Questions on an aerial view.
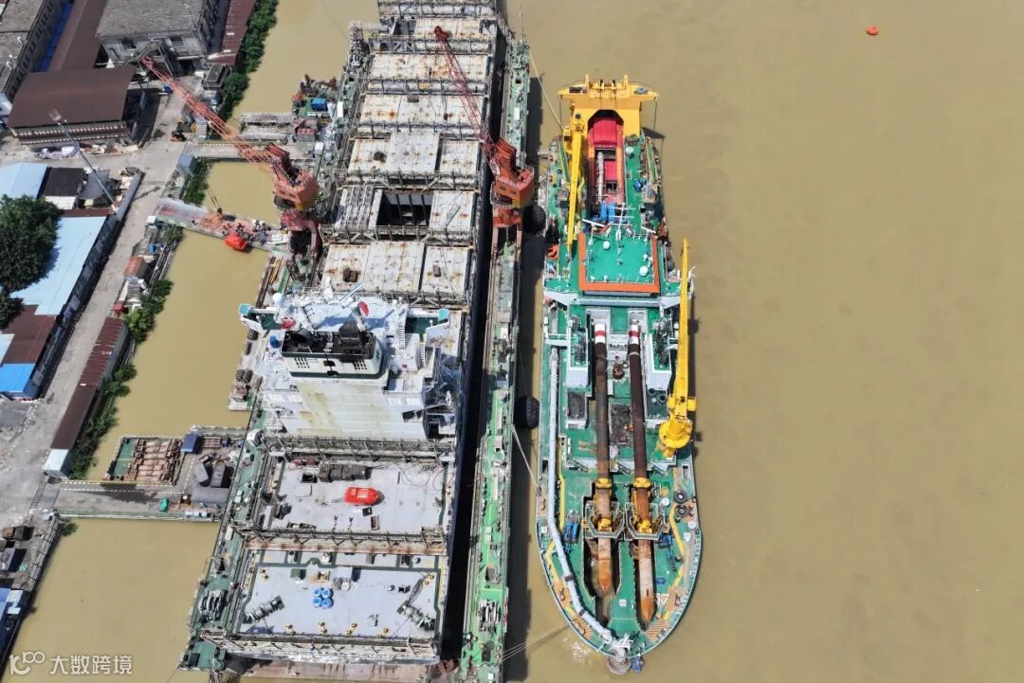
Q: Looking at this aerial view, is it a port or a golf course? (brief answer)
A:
port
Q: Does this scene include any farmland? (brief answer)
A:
No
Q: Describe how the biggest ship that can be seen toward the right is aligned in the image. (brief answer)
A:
vertically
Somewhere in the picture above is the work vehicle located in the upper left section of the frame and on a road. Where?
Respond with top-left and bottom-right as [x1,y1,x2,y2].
[172,127,191,141]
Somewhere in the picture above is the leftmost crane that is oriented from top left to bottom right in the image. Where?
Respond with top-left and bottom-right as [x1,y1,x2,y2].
[140,57,318,268]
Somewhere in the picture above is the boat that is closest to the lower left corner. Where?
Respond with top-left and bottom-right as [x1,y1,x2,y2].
[0,587,38,665]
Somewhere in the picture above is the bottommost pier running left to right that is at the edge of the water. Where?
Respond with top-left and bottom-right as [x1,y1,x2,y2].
[56,480,229,522]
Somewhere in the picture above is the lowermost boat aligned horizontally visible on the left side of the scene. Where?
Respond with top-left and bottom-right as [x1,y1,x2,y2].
[342,488,382,506]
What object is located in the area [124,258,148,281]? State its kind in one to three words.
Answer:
shed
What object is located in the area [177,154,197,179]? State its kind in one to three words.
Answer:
building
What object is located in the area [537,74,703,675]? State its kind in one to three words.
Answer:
ship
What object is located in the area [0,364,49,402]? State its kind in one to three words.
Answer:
building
